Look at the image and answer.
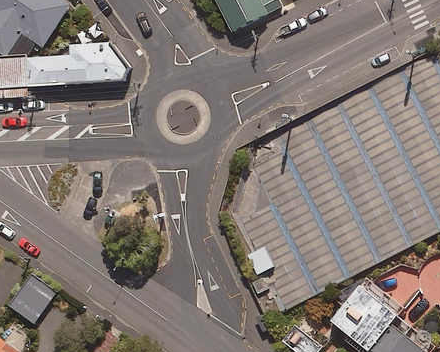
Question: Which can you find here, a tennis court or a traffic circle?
traffic circle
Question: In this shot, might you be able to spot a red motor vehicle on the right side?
No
